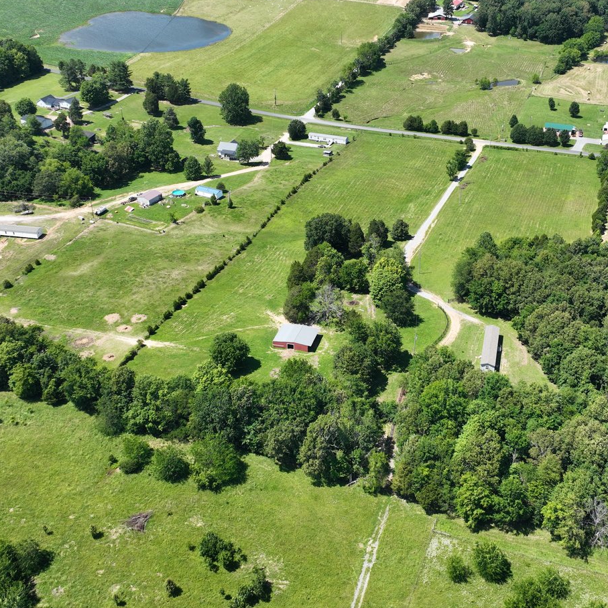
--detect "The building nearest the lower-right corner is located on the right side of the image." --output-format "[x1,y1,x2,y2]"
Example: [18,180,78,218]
[477,322,507,371]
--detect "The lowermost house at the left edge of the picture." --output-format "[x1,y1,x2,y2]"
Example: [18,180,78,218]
[0,223,44,238]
